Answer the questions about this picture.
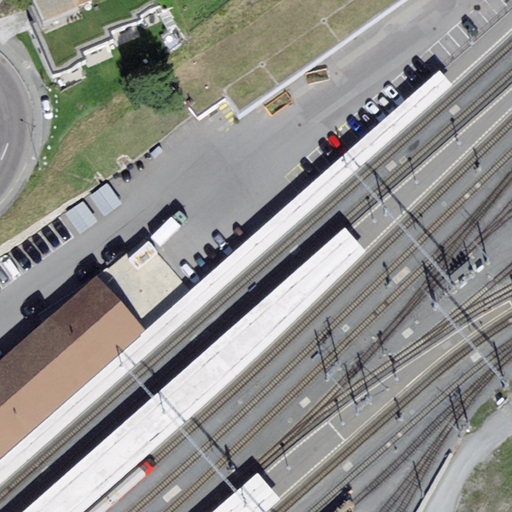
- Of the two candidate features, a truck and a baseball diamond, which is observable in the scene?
truck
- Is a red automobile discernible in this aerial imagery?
Yes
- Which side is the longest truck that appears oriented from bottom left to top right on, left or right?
left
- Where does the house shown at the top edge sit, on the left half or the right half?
left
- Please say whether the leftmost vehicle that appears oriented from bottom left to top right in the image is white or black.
black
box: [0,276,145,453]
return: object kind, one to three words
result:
building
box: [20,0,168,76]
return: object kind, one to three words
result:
house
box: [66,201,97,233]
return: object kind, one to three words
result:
building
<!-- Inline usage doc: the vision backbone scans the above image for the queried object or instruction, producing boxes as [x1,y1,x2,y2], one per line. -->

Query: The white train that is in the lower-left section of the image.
[88,456,158,512]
